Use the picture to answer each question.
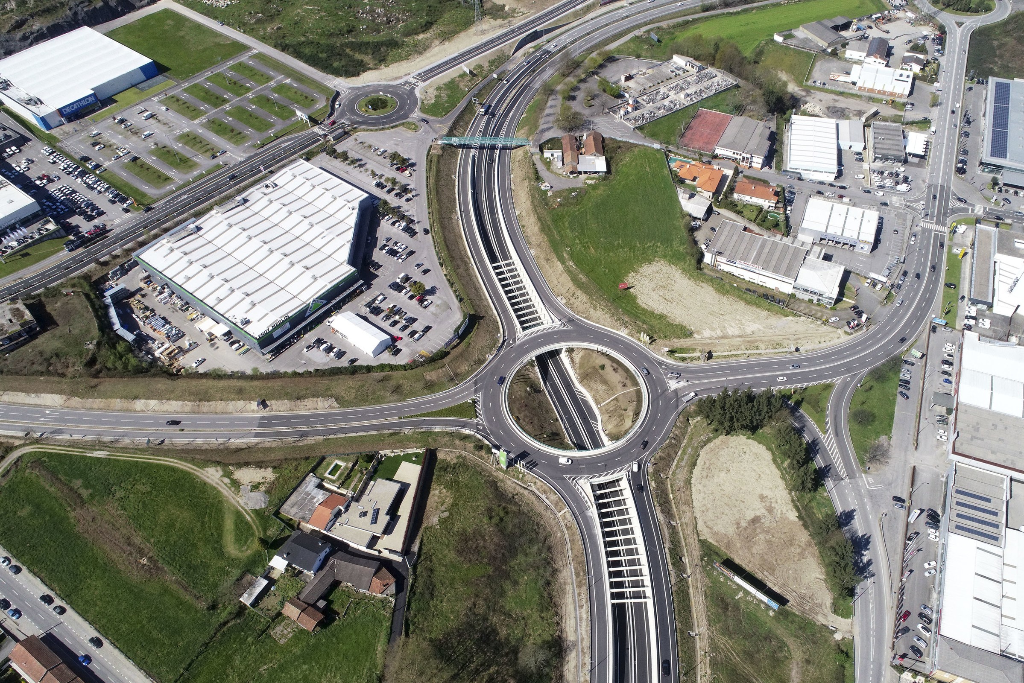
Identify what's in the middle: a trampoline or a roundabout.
roundabout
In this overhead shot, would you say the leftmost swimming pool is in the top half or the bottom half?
bottom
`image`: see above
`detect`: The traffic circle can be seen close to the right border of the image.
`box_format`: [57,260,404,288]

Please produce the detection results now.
[908,0,1013,22]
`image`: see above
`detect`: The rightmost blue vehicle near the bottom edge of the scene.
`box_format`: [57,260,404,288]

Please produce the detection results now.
[77,653,93,667]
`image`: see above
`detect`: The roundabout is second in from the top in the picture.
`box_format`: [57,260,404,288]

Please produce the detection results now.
[337,84,418,126]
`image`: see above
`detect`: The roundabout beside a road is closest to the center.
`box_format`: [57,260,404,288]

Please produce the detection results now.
[476,325,676,479]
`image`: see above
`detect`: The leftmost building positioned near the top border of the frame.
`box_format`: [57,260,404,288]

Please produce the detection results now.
[0,26,157,130]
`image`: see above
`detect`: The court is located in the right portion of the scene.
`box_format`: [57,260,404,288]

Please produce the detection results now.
[680,108,732,152]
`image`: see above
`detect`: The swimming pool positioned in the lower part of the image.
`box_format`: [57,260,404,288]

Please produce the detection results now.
[325,459,346,479]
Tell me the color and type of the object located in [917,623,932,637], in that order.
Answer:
white car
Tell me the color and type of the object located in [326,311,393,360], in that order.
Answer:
white tent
